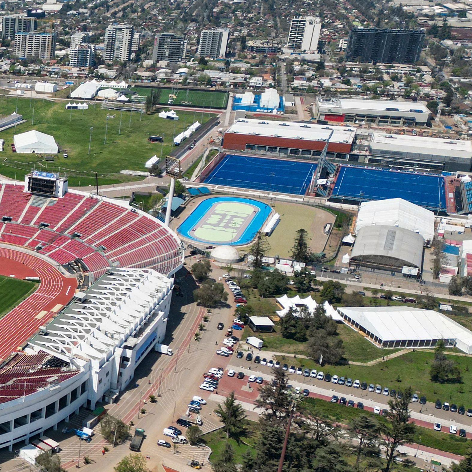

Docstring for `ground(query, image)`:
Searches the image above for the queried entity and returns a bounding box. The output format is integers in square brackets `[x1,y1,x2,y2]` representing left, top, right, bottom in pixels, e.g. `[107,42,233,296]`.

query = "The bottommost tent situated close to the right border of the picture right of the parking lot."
[338,308,472,349]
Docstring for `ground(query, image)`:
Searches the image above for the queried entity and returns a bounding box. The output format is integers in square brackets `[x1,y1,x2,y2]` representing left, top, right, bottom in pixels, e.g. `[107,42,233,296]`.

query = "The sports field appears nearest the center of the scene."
[206,154,316,194]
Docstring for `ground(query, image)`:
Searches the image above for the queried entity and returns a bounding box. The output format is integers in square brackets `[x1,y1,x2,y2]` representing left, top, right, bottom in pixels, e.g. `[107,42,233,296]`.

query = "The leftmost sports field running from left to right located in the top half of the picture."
[105,86,228,106]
